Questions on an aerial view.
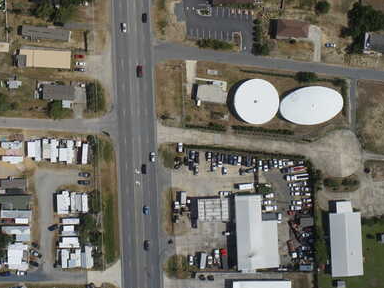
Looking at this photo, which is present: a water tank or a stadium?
water tank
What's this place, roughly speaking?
residential area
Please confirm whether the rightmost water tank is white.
Yes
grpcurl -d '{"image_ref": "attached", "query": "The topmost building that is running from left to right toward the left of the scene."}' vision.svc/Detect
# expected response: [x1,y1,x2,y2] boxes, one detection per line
[21,25,70,44]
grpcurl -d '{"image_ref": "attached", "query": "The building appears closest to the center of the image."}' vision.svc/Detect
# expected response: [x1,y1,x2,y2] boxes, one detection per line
[196,84,229,104]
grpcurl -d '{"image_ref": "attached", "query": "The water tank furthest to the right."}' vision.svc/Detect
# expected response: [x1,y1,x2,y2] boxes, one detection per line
[277,86,343,124]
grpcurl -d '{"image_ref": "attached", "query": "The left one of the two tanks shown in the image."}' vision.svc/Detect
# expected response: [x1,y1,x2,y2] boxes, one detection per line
[233,79,278,124]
